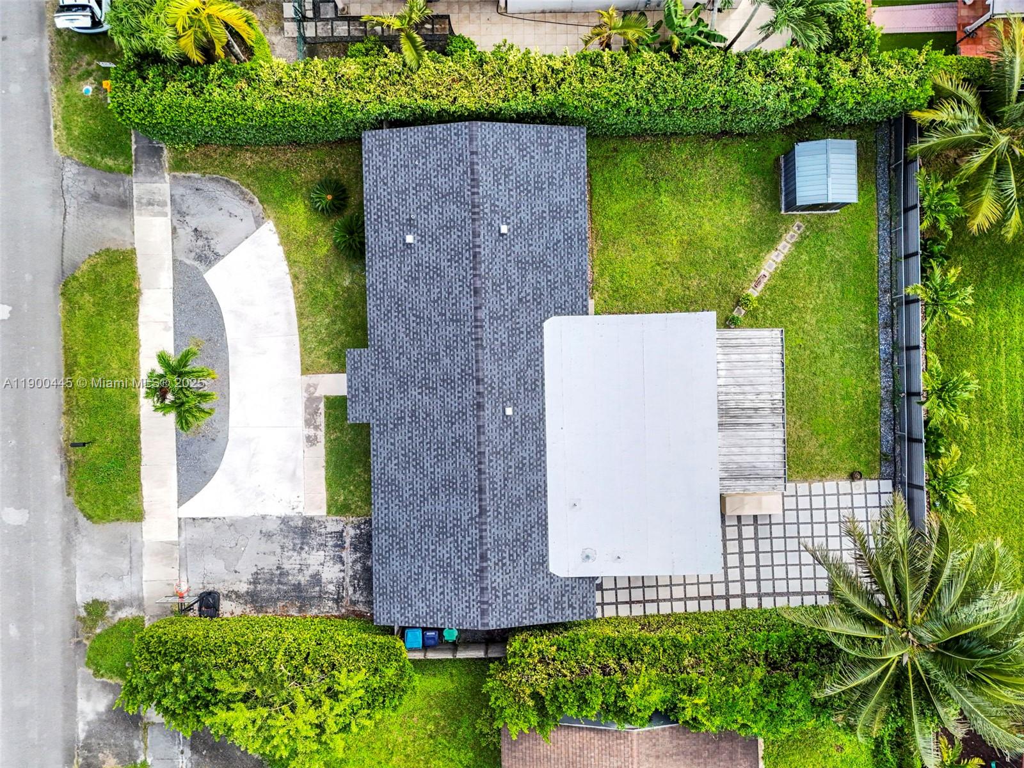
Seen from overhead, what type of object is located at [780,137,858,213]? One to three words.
shed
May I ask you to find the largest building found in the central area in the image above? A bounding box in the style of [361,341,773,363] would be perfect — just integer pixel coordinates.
[347,121,722,631]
